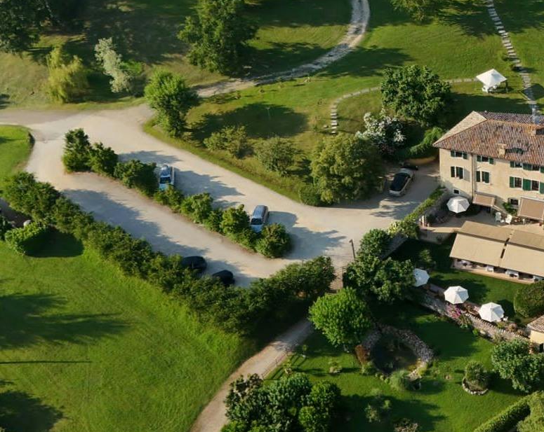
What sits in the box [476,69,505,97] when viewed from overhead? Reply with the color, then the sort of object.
white gazebo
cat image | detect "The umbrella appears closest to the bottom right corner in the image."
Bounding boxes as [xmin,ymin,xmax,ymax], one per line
[476,295,503,320]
